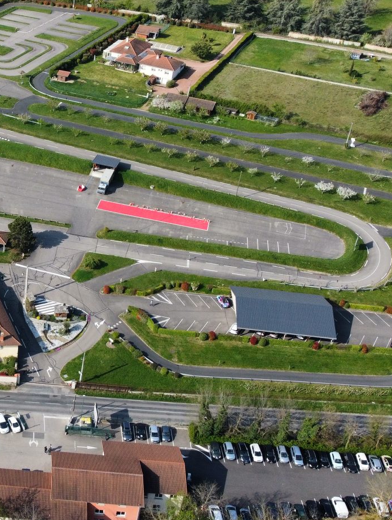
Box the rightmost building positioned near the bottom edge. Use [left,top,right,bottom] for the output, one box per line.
[104,443,188,511]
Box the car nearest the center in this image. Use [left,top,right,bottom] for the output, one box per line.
[216,295,230,307]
